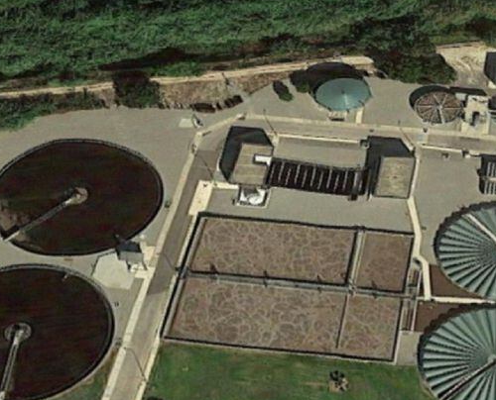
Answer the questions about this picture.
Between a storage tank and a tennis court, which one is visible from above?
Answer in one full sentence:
This aerial view contains a storage tank.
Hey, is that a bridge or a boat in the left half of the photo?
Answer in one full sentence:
Visible in the left half of the photo is a bridge.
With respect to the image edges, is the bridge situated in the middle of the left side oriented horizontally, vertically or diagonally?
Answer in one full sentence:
The bridge situated in the middle of the left side has been laid out diagonally relative to the frame.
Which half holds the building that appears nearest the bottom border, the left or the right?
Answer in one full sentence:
The building that appears nearest the bottom border appears in the left half of the scene.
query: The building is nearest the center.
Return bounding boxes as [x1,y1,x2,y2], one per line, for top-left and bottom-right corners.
[229,142,273,198]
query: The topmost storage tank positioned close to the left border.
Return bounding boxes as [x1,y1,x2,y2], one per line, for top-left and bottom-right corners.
[0,136,163,258]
